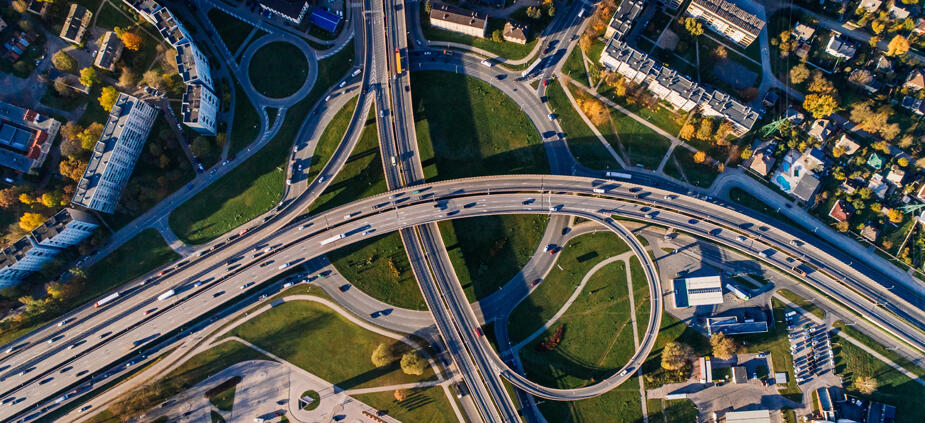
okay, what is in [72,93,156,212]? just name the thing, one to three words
building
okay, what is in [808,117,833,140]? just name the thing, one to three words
house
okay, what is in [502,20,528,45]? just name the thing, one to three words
house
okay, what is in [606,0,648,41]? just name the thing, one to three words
building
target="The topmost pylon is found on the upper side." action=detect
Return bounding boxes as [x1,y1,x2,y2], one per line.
[754,117,790,146]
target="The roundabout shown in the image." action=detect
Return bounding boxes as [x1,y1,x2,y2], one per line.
[240,33,317,107]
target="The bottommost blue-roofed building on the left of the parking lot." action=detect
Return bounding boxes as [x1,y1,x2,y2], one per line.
[704,315,769,335]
